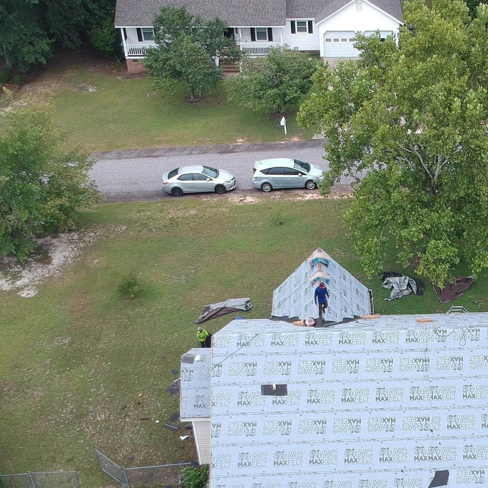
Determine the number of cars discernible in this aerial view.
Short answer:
two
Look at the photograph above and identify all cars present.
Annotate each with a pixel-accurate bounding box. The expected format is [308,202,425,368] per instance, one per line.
[160,166,236,196]
[252,159,319,191]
